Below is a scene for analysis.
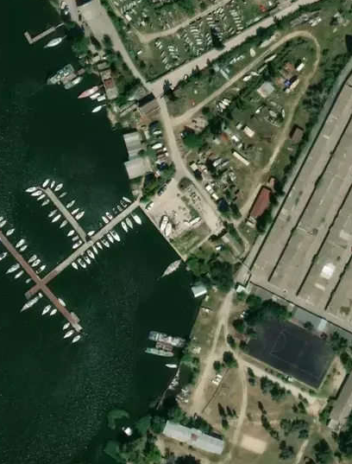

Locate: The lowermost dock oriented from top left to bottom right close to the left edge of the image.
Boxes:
[0,232,84,335]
